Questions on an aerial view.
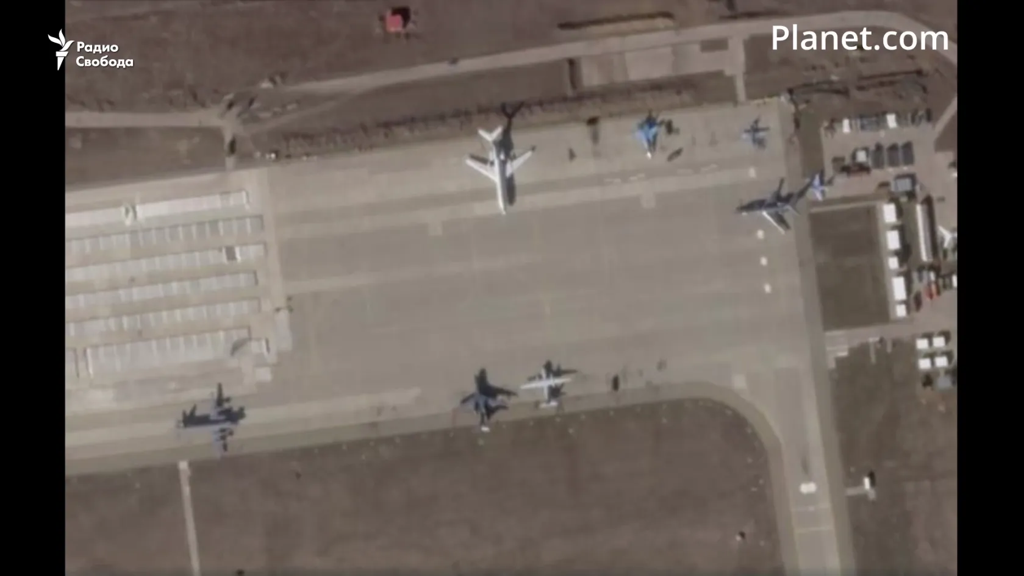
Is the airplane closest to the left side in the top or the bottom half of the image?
bottom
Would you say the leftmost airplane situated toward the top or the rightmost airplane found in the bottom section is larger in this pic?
the leftmost airplane situated toward the top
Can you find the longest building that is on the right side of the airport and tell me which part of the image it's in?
right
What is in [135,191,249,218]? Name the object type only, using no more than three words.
shed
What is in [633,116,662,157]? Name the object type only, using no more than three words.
airplane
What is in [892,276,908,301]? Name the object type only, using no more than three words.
shed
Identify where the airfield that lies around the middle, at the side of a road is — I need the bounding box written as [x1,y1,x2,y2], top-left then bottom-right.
[0,96,855,576]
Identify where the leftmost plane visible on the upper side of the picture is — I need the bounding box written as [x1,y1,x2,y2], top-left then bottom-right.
[459,128,524,214]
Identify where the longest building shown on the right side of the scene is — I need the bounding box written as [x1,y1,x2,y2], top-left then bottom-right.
[915,202,935,262]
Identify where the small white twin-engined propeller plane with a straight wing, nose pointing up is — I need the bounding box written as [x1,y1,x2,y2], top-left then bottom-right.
[519,368,570,405]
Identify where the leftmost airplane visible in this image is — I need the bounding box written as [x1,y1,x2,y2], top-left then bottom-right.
[176,391,240,457]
